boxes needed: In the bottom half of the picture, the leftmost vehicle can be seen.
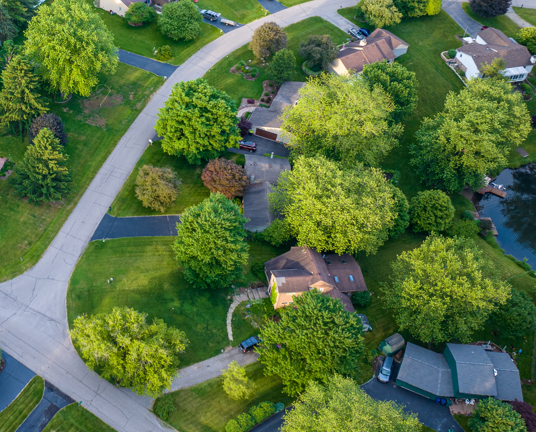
[234,333,263,354]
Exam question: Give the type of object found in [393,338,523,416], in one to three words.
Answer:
house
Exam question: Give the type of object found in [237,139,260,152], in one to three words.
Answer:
vehicle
